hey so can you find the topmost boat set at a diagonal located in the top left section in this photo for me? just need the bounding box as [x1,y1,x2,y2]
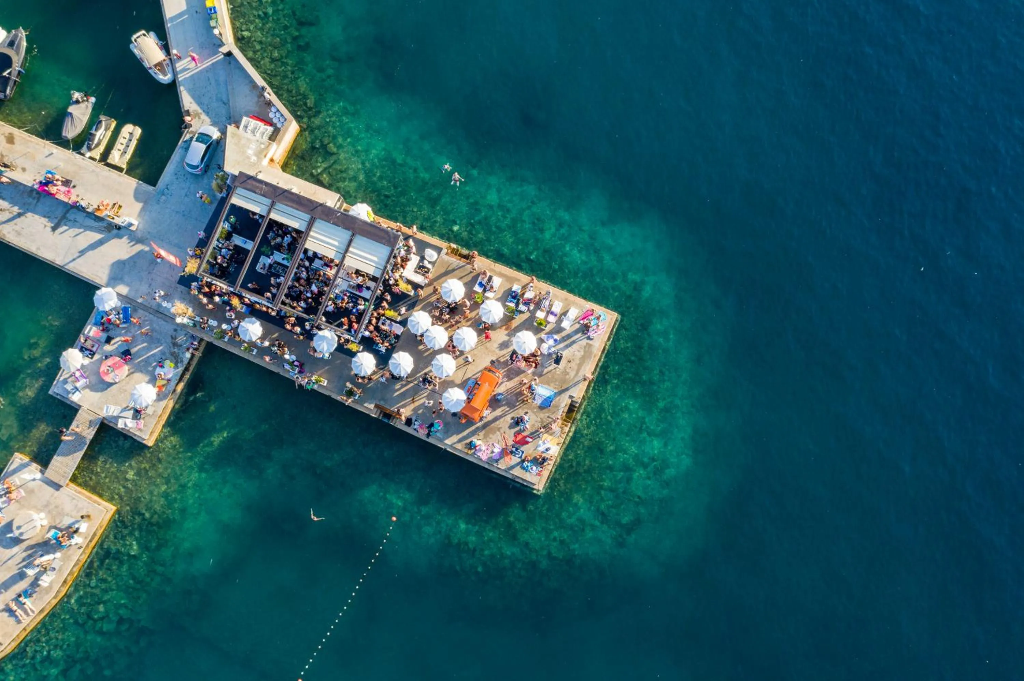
[130,24,174,84]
